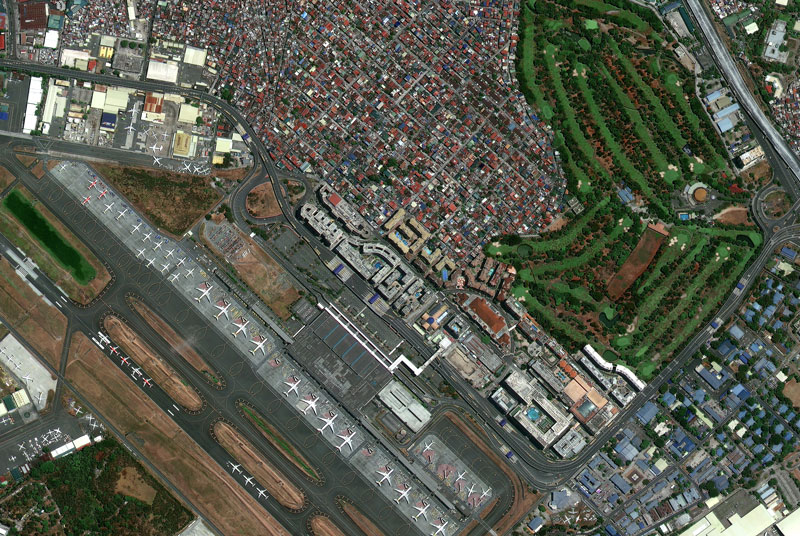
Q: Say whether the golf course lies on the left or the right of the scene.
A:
right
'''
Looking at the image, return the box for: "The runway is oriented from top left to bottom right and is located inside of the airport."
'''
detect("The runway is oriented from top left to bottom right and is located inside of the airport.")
[0,228,311,536]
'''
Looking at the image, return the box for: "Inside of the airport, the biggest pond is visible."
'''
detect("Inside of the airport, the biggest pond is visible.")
[3,189,91,284]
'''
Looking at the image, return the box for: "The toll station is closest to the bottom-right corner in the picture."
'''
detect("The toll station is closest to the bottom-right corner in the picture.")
[707,317,723,334]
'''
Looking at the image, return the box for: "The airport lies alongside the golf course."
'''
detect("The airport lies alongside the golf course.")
[0,136,529,536]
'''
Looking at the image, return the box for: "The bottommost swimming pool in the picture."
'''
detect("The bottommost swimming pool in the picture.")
[525,406,541,420]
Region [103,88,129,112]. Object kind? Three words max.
hangar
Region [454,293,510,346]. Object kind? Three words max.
building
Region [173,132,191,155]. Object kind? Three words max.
hangar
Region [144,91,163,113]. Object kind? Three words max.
building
